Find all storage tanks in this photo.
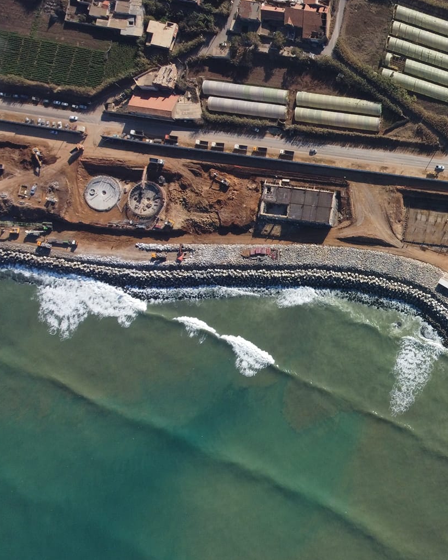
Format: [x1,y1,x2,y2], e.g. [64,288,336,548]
[128,172,171,222]
[84,175,127,213]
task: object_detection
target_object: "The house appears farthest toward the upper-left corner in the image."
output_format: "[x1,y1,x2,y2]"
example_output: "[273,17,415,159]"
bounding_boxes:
[78,0,113,18]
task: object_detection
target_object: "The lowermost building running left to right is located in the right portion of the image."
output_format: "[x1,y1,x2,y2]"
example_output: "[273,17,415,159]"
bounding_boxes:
[260,183,340,225]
